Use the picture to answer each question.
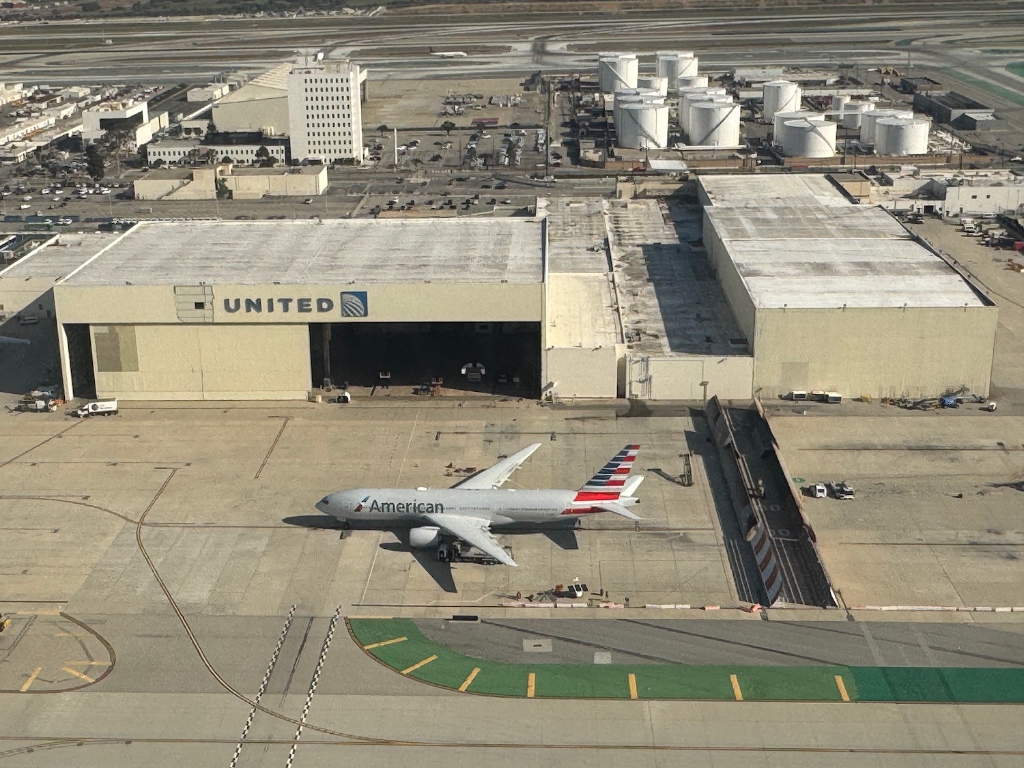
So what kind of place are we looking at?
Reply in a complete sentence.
The picture captures an airport.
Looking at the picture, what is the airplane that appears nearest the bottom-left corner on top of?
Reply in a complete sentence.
The airplane that appears nearest the bottom-left corner rests on the apron.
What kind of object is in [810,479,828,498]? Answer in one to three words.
work vehicle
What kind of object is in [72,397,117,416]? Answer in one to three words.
vehicle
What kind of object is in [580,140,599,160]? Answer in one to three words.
shed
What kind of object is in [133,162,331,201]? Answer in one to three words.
building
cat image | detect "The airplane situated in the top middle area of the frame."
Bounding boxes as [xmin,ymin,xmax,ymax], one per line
[427,45,466,58]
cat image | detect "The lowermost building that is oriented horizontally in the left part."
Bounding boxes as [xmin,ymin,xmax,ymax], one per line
[52,220,551,400]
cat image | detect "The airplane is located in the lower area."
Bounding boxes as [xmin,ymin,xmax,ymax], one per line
[316,443,642,567]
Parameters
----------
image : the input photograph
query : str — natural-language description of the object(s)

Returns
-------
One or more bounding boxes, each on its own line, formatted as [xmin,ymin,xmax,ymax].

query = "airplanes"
[316,443,642,567]
[427,45,466,58]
